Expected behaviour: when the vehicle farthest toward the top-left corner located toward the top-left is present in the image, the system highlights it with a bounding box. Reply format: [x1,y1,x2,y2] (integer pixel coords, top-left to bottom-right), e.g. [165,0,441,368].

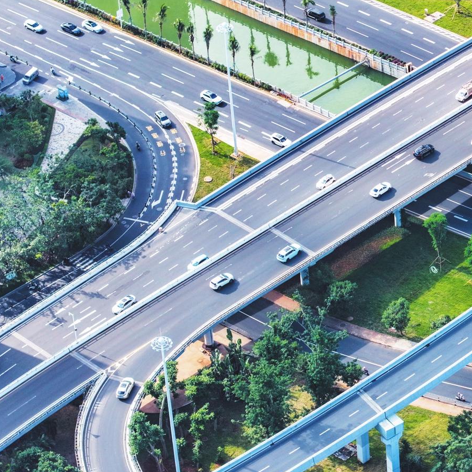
[24,19,43,32]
